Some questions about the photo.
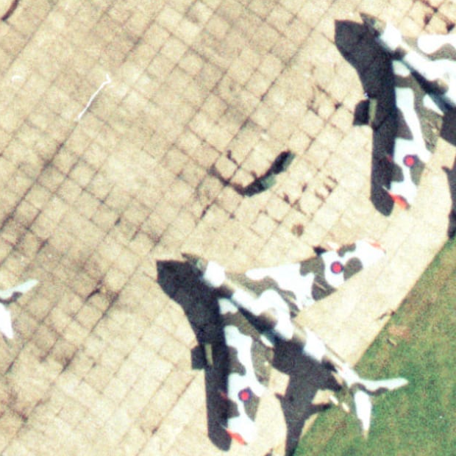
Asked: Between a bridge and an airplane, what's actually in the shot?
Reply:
airplane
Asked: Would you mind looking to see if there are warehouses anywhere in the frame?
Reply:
No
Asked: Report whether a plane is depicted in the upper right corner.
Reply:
Yes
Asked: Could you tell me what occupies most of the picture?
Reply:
paved ground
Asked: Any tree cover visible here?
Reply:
No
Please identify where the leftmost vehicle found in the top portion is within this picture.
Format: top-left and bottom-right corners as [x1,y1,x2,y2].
[254,171,281,193]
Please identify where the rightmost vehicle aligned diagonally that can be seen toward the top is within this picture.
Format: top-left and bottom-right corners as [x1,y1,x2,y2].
[277,148,299,176]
